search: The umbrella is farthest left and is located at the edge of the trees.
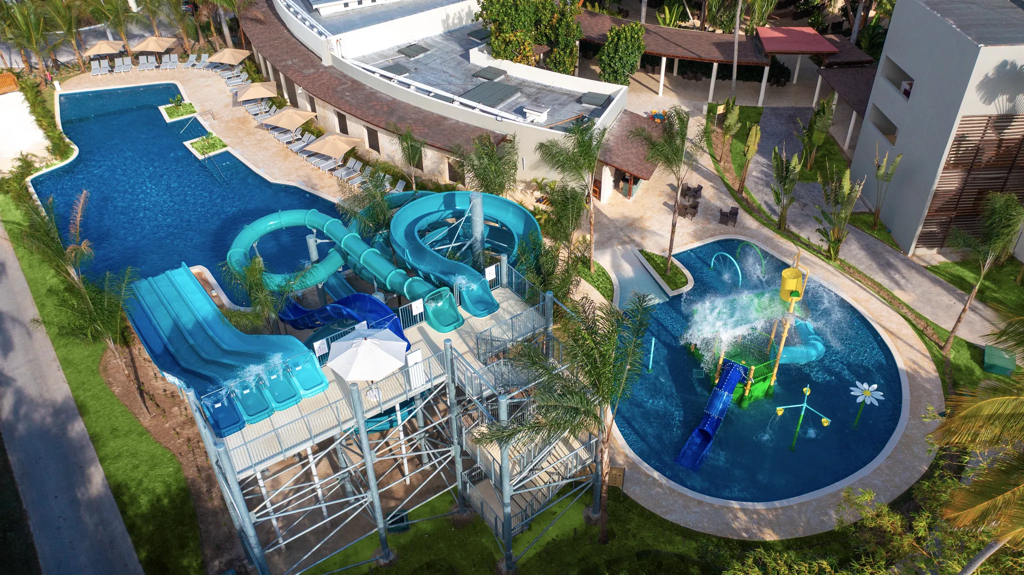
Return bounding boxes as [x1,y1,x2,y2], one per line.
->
[84,41,129,73]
